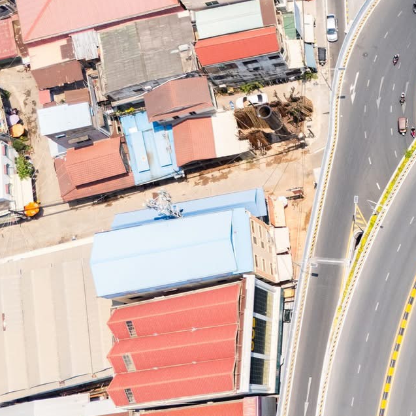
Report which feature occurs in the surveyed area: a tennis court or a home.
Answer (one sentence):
Looking from above, you can make out a home.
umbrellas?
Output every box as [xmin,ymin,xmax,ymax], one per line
[11,123,26,139]
[24,202,43,219]
[10,113,22,125]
